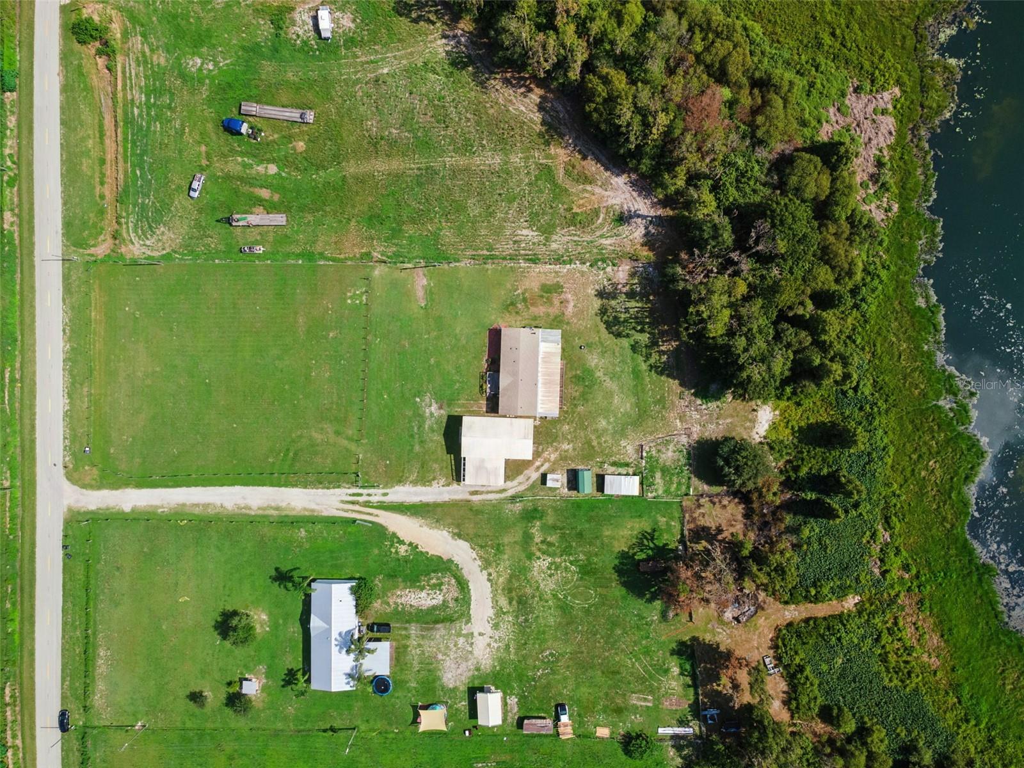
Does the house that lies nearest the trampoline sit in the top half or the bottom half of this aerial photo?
bottom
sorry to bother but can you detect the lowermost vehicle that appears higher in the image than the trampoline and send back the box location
[367,623,392,635]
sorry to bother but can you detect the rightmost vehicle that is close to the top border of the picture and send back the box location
[319,8,333,45]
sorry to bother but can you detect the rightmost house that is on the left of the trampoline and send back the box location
[308,580,358,693]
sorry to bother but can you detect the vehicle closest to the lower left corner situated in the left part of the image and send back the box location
[57,709,70,732]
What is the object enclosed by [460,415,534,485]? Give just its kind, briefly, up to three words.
building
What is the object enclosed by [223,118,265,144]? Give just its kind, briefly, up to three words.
truck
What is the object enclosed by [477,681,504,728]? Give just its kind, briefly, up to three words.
shed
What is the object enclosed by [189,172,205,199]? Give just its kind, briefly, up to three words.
vehicle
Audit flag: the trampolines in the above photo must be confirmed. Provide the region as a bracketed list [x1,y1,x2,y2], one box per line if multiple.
[373,676,392,697]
